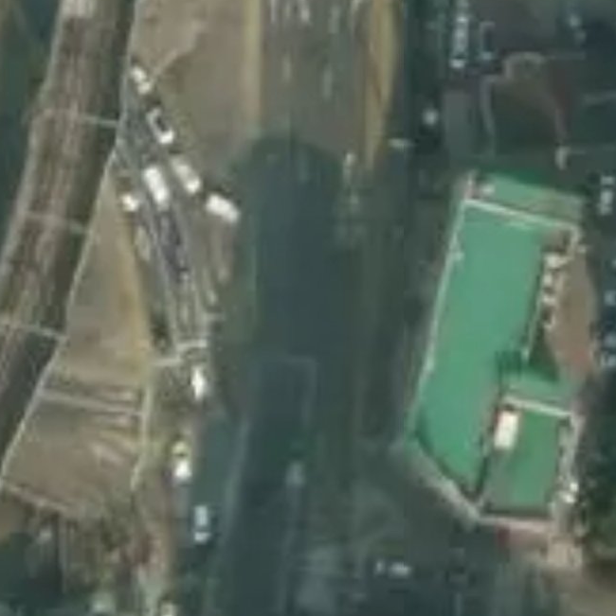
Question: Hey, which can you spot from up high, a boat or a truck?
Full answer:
Of the two, only a truck appears.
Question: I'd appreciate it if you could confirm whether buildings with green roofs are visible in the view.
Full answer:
Yes, there's a building with a green roof down there.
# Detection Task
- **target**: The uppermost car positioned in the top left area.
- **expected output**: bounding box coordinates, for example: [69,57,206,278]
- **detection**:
[132,60,156,97]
